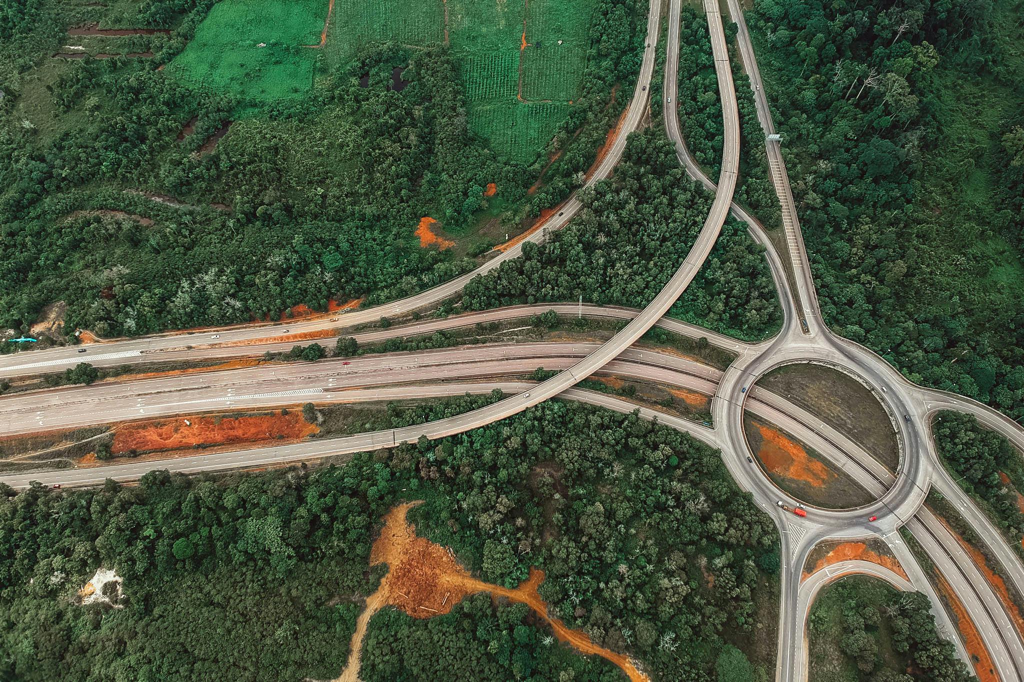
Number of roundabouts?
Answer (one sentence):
I count just 1 roundabout.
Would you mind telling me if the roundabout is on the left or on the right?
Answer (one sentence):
It is on the right.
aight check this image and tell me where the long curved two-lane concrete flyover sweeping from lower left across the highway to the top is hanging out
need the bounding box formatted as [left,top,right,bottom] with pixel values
[0,0,740,492]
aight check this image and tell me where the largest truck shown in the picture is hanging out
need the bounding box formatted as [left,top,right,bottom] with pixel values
[778,499,809,520]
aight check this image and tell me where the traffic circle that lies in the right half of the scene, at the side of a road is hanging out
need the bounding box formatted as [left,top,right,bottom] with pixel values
[704,305,959,581]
